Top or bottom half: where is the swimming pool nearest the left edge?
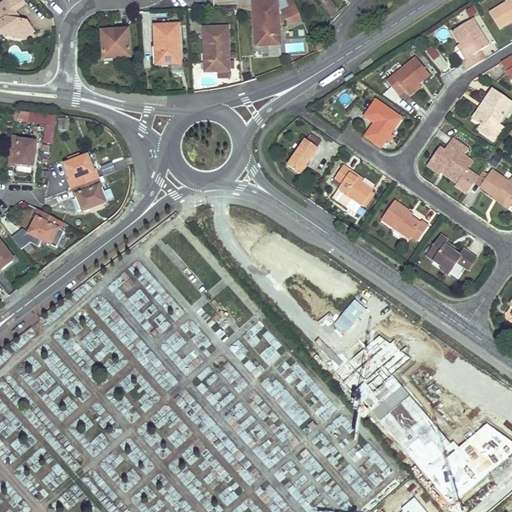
top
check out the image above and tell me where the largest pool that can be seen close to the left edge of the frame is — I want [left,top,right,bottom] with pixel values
[8,44,32,64]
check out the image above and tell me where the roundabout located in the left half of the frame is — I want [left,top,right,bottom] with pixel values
[118,96,278,204]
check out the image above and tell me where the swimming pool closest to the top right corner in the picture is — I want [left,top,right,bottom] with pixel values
[436,27,450,41]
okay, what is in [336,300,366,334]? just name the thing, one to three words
building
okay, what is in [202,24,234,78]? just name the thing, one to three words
house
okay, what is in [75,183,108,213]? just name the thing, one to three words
house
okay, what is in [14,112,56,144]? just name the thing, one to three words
shed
